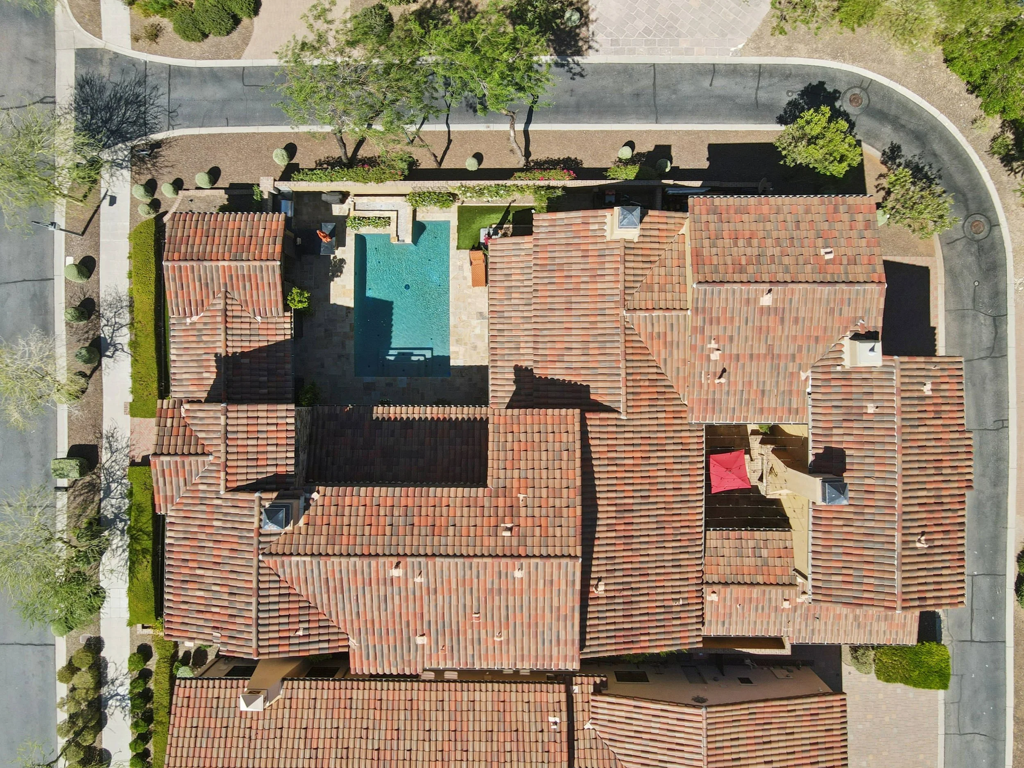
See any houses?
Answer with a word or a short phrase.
Yes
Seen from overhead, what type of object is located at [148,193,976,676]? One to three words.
house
